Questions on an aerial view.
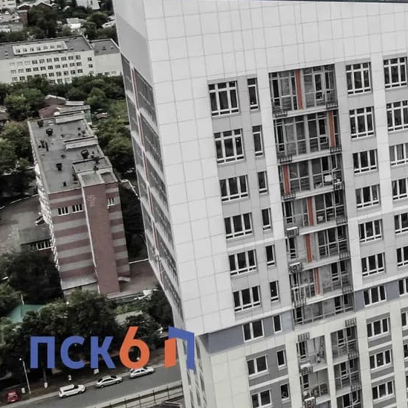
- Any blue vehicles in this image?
No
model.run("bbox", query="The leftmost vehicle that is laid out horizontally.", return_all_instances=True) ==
[56,379,86,396]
